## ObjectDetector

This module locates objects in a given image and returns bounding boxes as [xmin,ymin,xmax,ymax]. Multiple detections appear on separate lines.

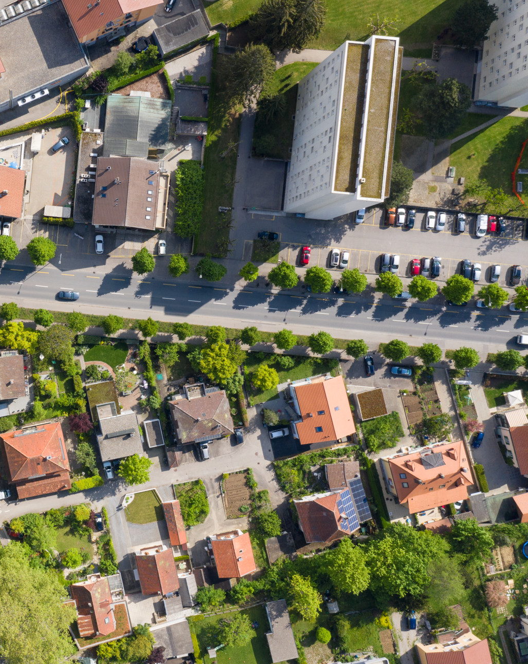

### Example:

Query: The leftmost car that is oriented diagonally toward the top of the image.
[51,136,70,153]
